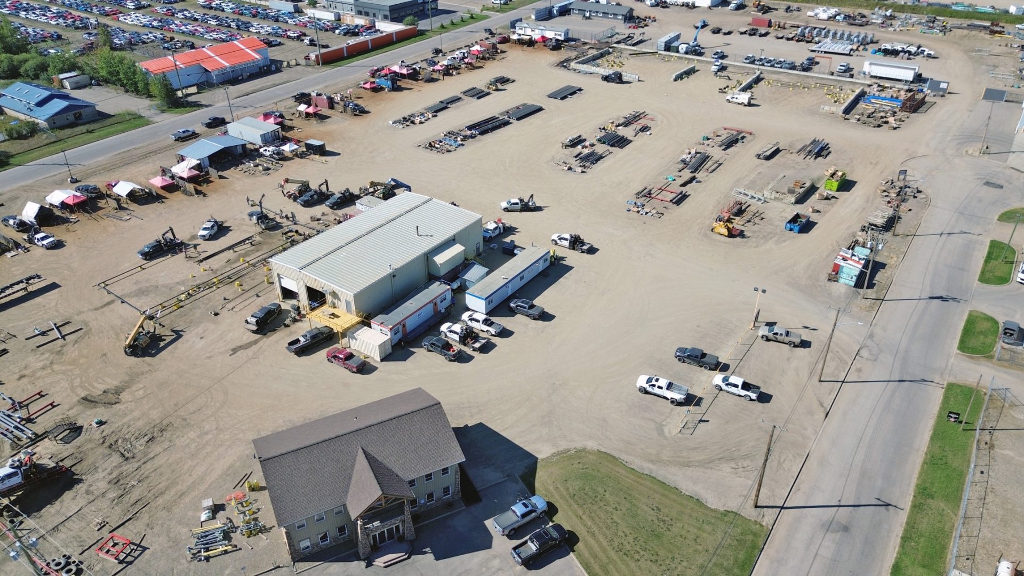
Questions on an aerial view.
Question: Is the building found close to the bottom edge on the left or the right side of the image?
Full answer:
The building found close to the bottom edge is on the left side of the image.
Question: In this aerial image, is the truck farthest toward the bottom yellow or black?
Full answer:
The color of the truck farthest toward the bottom is black.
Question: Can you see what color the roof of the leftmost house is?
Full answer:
The roof over the leftmost house appears blue.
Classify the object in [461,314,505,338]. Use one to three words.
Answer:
truck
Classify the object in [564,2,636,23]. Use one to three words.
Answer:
house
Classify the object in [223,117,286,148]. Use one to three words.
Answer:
building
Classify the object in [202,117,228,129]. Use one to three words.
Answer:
vehicle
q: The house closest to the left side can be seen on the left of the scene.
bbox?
[4,81,108,129]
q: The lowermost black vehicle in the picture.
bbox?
[507,525,573,568]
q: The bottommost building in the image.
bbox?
[249,388,466,568]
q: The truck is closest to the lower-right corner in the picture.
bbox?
[999,320,1022,352]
